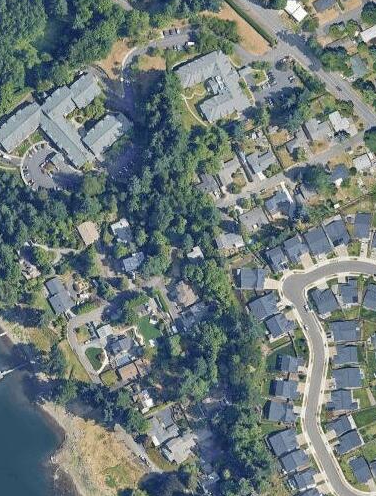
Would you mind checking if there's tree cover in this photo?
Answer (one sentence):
Yes, the picture does contain tree cover.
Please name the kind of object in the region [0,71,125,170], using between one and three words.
house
